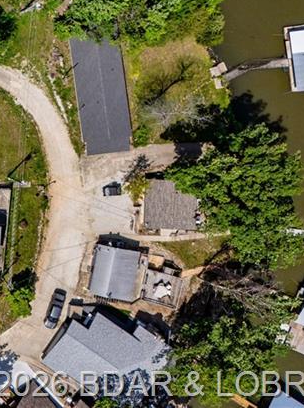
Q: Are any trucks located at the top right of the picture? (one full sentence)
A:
No, no truck is visible at the top right of the picture.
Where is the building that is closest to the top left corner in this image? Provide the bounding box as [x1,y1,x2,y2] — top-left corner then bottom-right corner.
[68,39,130,154]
